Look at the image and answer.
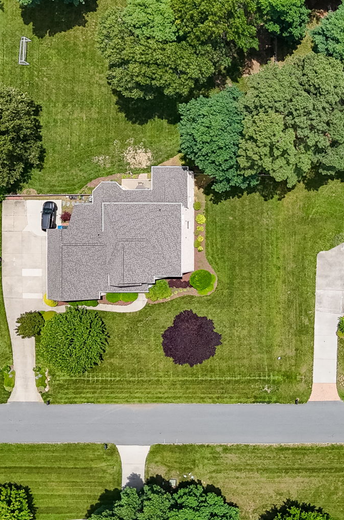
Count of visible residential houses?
one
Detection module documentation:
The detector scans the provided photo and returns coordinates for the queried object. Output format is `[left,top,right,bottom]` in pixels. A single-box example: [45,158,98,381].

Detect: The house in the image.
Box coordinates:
[47,166,193,299]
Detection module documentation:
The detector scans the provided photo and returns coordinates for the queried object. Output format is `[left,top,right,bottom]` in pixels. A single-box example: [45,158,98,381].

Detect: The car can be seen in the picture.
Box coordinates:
[37,198,55,231]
